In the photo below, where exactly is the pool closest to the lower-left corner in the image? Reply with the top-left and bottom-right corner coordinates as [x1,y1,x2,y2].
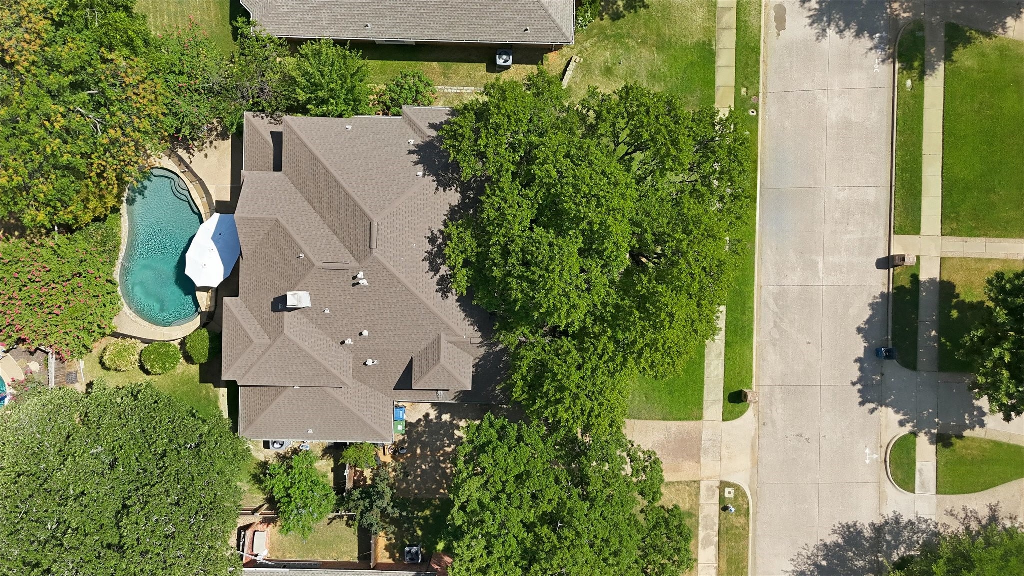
[0,351,23,414]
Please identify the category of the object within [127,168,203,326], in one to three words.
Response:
swimming pool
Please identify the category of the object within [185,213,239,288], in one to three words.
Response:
umbrella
